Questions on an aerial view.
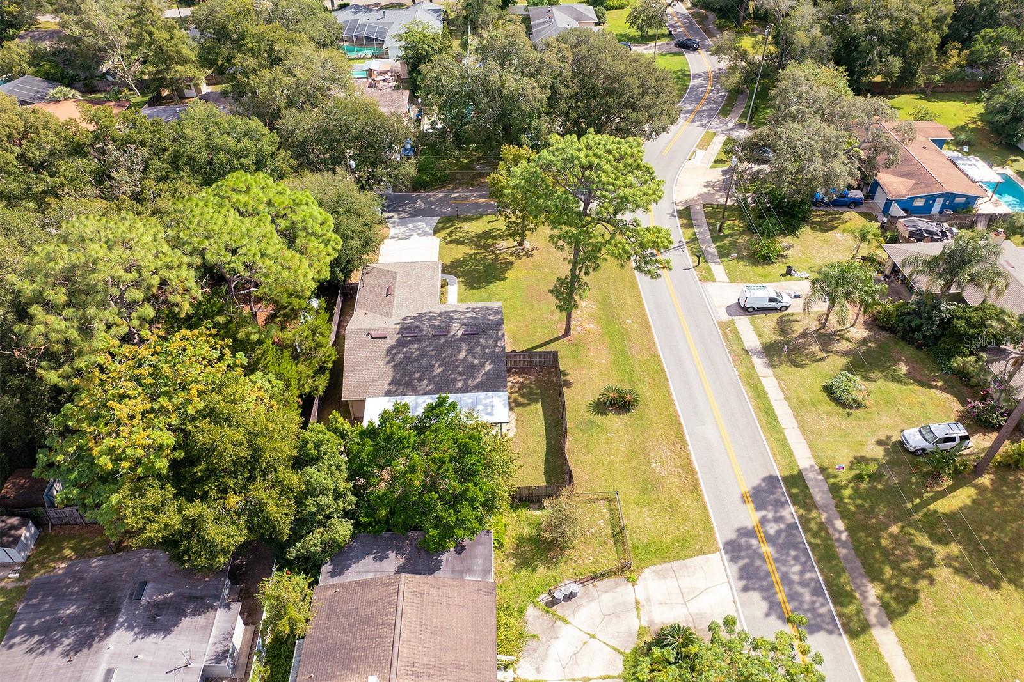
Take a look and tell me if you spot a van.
Yes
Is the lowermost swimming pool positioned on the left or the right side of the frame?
right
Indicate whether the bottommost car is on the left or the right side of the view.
right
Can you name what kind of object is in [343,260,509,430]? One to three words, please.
house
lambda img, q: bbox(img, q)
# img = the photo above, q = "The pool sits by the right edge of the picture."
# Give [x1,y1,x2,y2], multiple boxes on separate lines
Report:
[984,173,1024,211]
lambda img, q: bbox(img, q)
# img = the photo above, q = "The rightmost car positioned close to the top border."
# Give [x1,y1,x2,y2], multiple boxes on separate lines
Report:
[672,33,702,47]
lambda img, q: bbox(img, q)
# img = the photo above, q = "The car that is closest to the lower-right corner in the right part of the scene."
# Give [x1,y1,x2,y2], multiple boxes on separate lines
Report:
[894,415,967,456]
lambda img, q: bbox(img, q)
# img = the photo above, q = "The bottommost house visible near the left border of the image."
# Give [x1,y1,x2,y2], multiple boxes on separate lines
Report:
[0,555,252,682]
